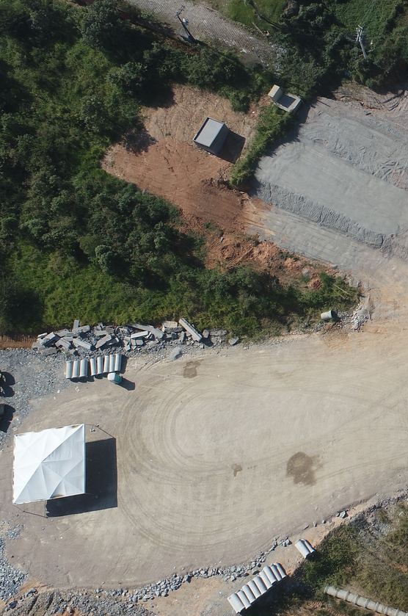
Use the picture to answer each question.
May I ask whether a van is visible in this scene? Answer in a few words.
No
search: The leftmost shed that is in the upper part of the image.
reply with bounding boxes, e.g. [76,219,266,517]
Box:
[194,117,233,154]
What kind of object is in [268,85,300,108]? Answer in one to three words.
shed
